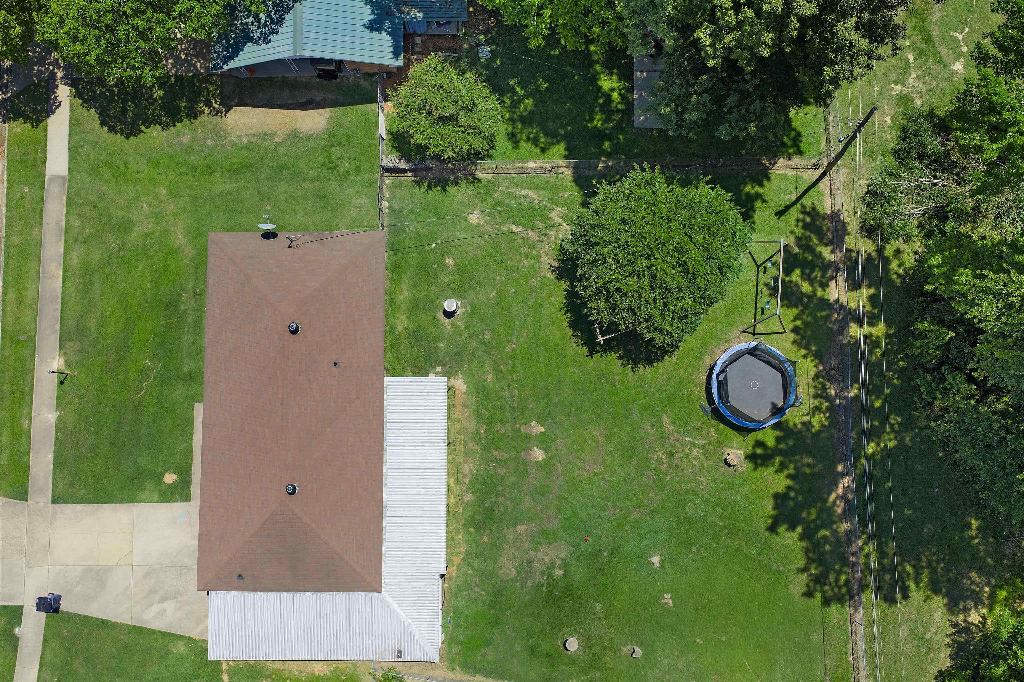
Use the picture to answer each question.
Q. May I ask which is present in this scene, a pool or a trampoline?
trampoline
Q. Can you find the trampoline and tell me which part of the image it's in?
right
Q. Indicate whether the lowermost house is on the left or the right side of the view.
left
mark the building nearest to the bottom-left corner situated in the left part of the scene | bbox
[197,230,386,592]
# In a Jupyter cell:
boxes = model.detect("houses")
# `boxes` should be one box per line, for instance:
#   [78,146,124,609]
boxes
[203,0,405,74]
[197,230,386,592]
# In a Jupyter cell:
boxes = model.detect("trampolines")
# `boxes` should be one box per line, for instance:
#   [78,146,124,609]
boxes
[709,335,805,435]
